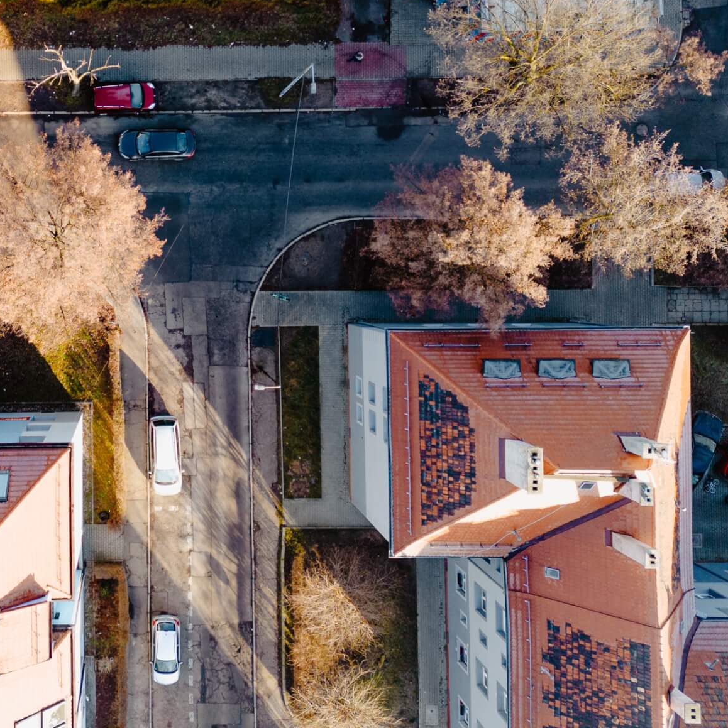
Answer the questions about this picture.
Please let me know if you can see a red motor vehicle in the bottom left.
No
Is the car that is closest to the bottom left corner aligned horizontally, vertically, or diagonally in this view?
vertically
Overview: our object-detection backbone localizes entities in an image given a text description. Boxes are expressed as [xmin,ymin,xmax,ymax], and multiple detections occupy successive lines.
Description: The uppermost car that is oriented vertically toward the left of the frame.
[150,413,185,494]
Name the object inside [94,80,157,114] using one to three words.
car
